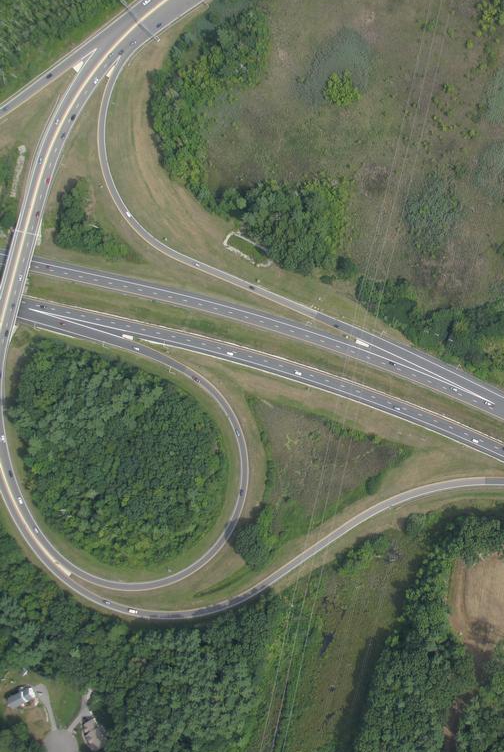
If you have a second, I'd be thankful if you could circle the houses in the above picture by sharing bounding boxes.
[79,717,101,751]
[5,686,41,709]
